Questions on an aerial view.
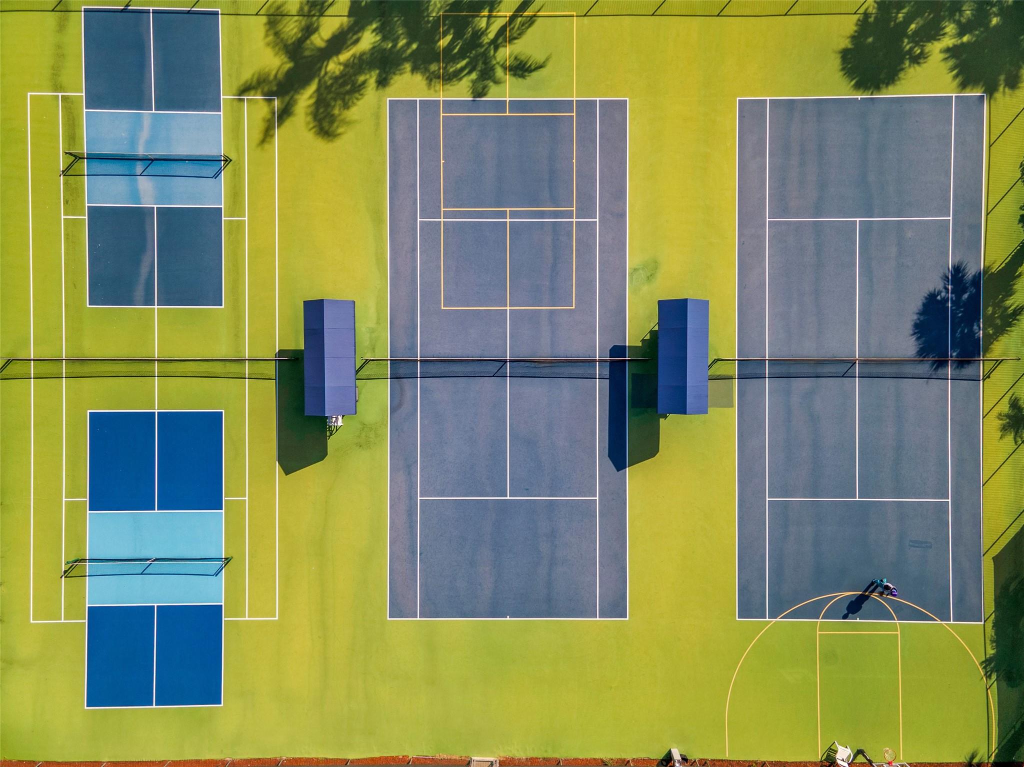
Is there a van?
No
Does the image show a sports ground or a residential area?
sports ground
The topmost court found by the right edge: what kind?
tennis court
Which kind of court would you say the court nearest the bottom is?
basketball court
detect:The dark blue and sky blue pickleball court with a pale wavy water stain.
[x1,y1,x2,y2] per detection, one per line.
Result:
[82,7,224,307]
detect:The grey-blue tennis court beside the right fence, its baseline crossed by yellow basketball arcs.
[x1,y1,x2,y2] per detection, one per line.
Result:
[736,93,986,624]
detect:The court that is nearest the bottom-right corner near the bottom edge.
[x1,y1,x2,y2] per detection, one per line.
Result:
[726,592,995,760]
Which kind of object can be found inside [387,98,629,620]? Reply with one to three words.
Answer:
tennis court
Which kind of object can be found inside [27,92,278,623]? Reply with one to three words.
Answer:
tennis court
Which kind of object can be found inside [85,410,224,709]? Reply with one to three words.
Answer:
sports court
